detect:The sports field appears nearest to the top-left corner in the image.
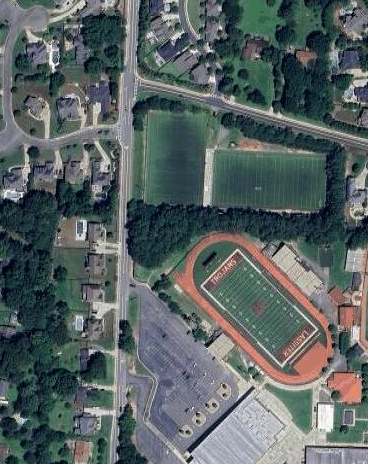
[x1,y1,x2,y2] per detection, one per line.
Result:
[144,112,206,205]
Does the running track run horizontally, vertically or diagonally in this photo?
diagonally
